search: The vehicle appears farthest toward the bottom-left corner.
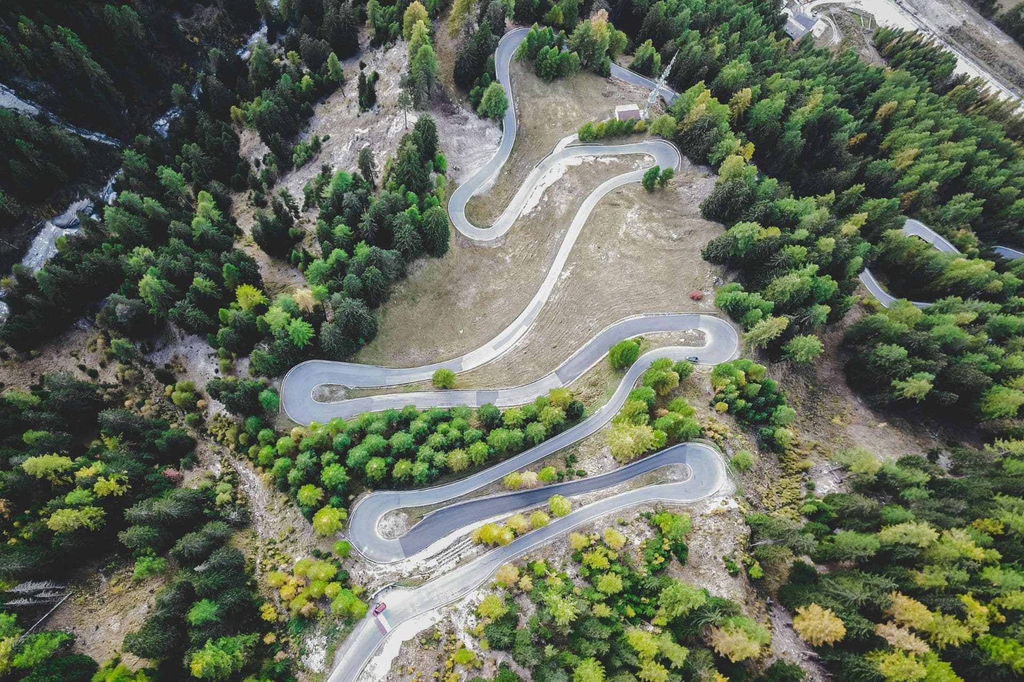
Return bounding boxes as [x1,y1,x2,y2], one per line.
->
[372,603,387,619]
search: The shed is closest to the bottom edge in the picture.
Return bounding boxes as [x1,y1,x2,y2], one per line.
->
[615,104,639,121]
